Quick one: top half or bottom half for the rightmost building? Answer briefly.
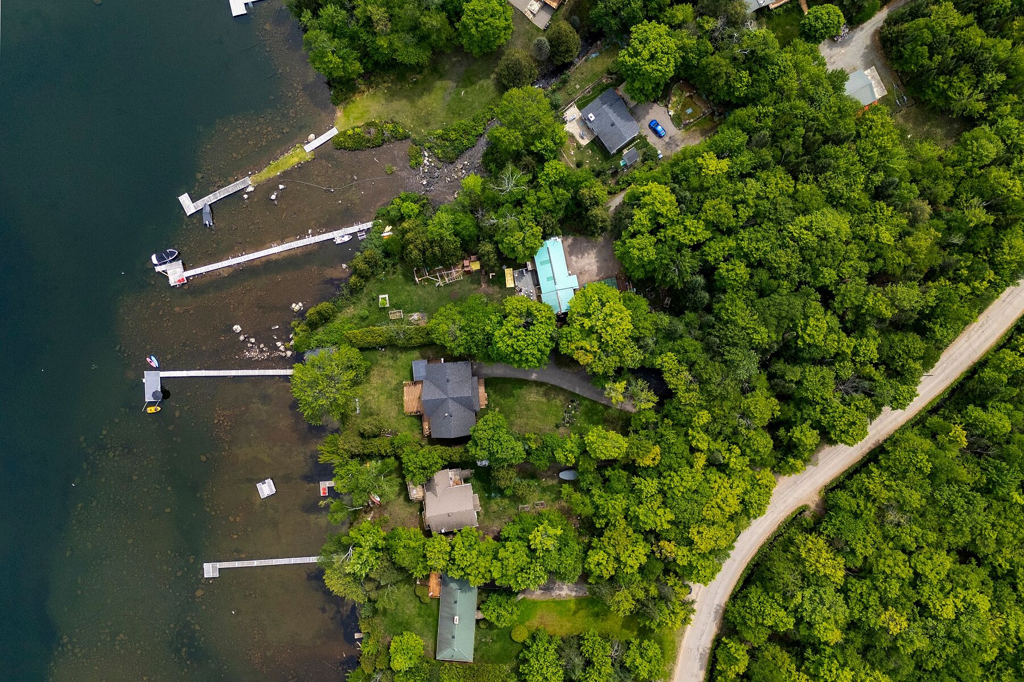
top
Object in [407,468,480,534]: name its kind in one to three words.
house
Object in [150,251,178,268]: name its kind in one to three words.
boat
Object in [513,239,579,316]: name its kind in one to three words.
house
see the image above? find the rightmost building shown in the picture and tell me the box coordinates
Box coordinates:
[835,66,887,110]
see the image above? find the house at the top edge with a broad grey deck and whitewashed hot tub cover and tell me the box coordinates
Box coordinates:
[506,0,562,32]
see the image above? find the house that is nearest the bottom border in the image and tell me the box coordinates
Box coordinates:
[417,570,483,662]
